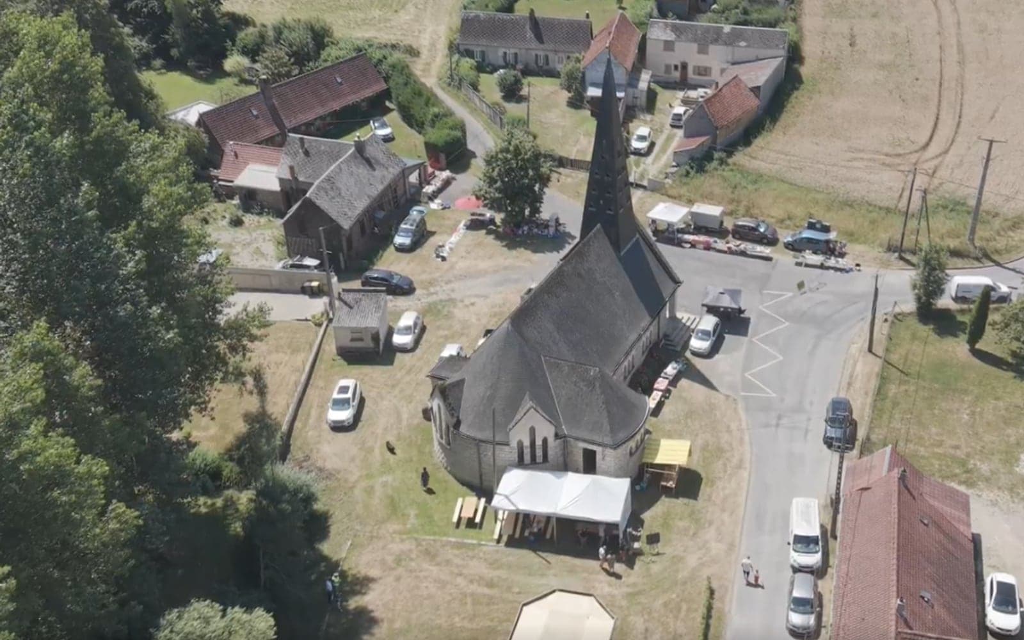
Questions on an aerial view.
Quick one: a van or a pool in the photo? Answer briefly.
van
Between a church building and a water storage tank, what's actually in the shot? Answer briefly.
church building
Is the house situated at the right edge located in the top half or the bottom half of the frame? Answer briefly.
bottom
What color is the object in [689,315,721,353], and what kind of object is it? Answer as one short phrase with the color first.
white car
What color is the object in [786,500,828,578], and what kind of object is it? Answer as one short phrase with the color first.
white van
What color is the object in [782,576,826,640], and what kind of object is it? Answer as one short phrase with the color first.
gray car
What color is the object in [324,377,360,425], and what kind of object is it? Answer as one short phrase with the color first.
white car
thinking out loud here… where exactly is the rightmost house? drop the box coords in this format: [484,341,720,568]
[826,440,981,640]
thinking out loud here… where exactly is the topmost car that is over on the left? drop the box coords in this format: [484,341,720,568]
[371,115,394,137]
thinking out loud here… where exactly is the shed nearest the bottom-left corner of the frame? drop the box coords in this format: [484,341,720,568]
[330,286,390,354]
